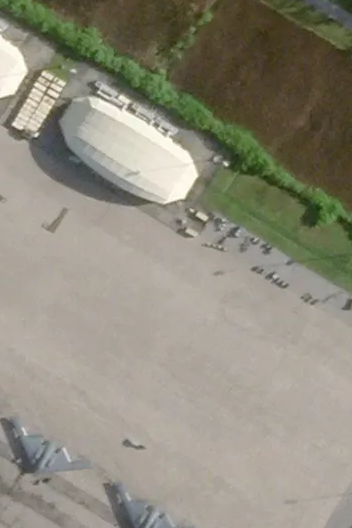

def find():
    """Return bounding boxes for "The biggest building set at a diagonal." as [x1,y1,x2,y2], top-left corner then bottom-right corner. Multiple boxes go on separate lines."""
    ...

[58,97,197,205]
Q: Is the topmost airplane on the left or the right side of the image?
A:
left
